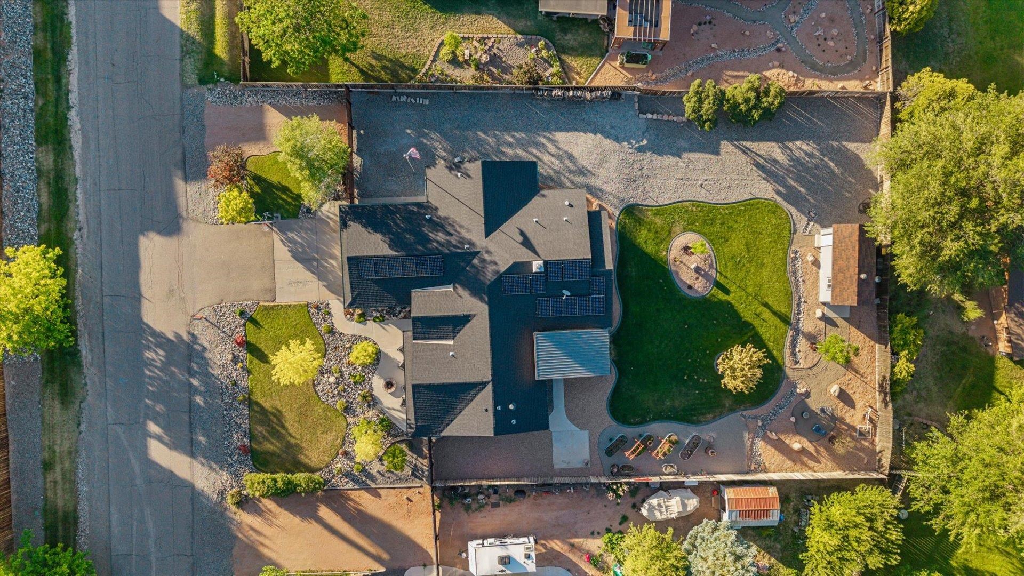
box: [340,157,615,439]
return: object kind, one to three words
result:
house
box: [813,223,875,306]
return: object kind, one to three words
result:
shed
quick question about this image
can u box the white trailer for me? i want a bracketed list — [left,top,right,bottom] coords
[460,534,537,574]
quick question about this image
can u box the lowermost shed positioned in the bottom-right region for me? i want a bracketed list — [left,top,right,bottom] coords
[718,481,782,528]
